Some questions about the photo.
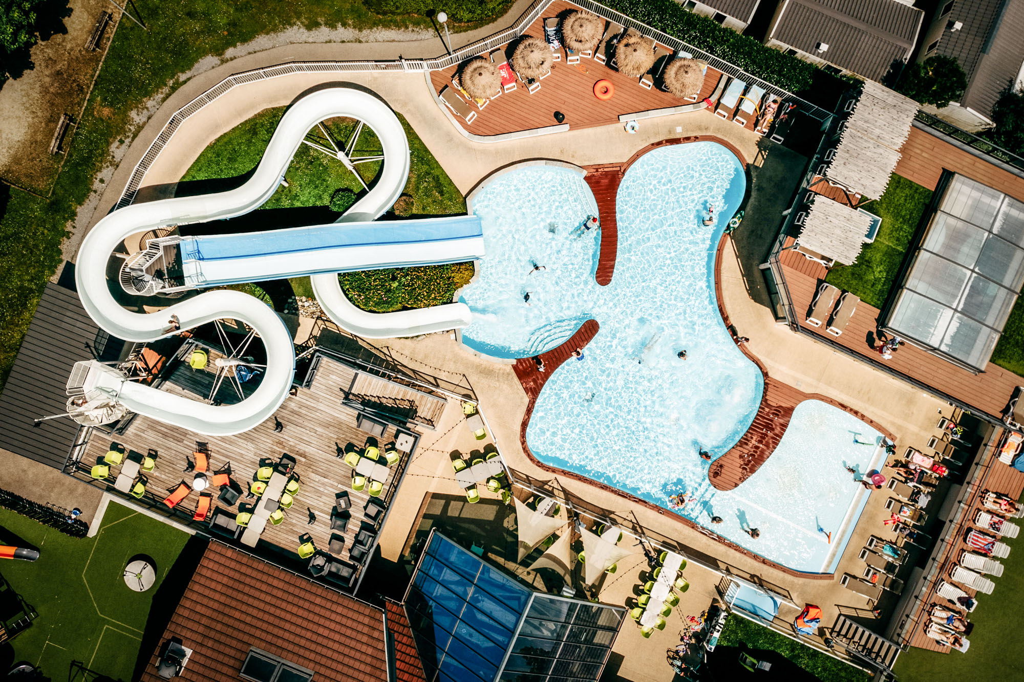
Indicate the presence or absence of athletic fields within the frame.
No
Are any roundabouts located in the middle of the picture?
No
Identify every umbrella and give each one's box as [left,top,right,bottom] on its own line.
[609,35,655,82]
[557,12,603,59]
[508,37,555,83]
[458,59,504,106]
[659,57,704,104]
